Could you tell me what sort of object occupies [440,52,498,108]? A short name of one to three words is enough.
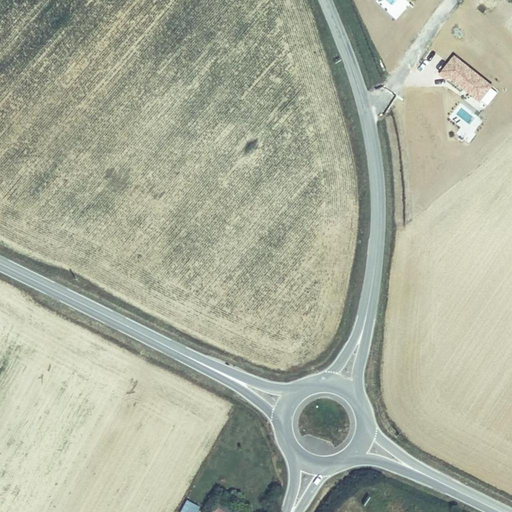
house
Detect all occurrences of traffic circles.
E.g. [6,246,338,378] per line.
[268,370,378,478]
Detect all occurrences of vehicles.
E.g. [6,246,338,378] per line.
[313,475,322,486]
[436,60,446,70]
[427,50,435,61]
[434,79,445,84]
[418,60,426,71]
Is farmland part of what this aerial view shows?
Yes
